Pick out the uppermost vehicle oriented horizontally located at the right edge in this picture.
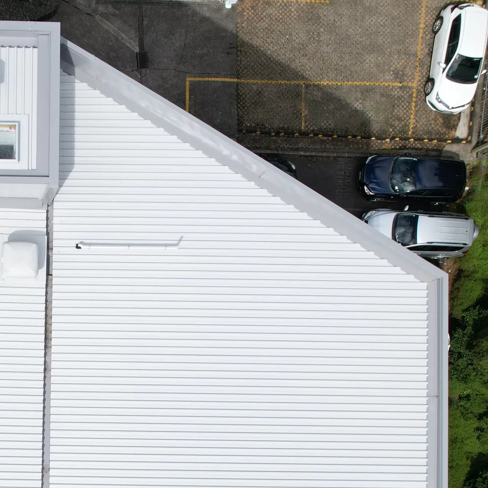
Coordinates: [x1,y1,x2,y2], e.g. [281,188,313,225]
[355,147,479,206]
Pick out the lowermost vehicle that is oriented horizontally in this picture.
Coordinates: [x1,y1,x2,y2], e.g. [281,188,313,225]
[360,200,487,259]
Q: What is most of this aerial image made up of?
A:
buildings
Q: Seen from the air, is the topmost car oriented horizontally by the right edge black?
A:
Yes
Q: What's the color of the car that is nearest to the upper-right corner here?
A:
white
